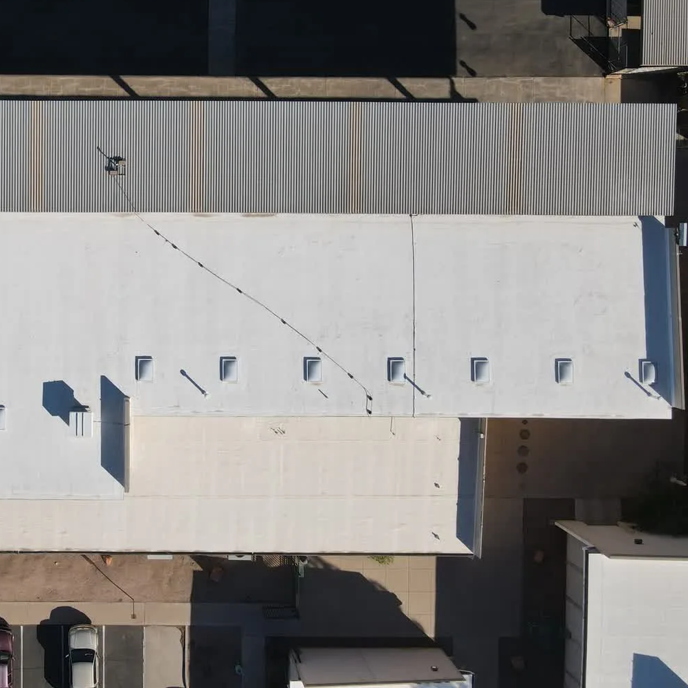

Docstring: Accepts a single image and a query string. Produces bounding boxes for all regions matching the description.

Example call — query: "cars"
[65,620,102,688]
[0,624,17,688]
